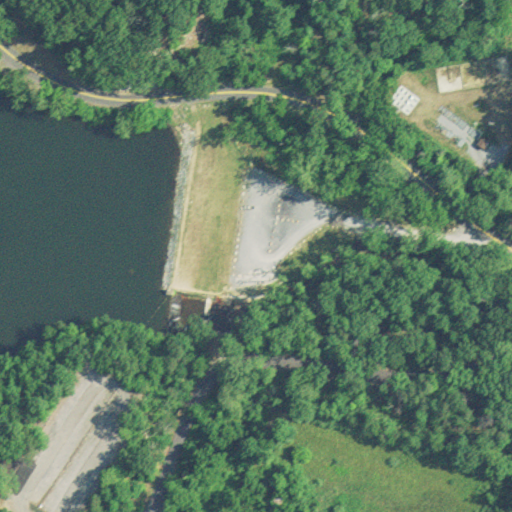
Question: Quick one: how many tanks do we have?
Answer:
0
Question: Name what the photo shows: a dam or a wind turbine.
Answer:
dam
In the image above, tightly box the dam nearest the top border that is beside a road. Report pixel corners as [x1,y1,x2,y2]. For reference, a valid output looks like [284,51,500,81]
[162,108,251,297]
